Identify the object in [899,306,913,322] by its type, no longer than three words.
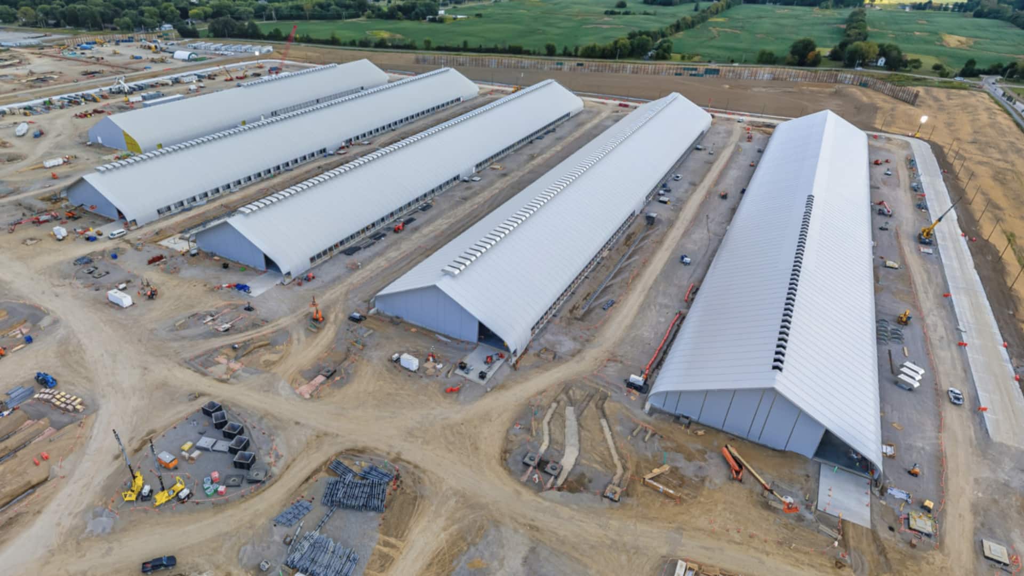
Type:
work vehicle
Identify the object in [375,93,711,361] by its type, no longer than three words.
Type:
building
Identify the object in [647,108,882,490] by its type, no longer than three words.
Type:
building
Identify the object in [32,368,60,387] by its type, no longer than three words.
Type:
work vehicle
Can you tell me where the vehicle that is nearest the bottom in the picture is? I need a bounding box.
[137,554,177,572]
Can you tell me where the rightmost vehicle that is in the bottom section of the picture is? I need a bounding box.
[948,385,966,403]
